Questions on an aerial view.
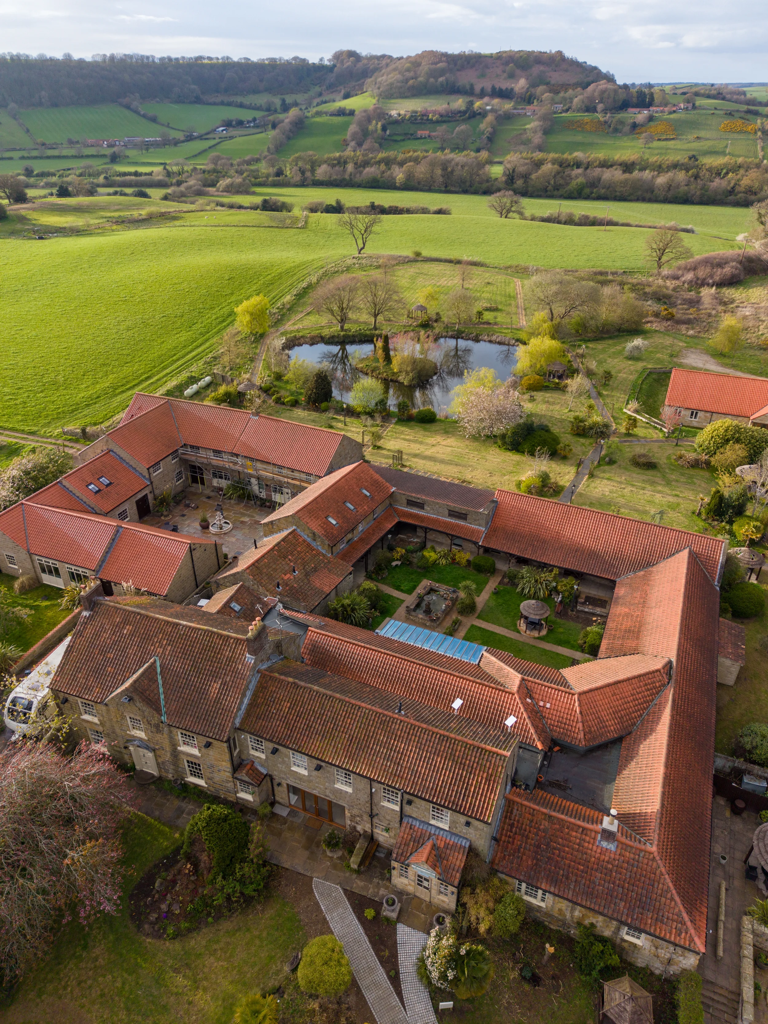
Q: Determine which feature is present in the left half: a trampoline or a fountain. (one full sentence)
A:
The feature located in the left half is a fountain.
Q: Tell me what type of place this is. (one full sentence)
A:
What you see here is a residential area.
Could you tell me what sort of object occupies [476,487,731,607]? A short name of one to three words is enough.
house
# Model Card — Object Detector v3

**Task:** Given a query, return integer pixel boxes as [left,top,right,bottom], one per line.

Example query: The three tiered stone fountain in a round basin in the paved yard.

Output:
[205,509,236,537]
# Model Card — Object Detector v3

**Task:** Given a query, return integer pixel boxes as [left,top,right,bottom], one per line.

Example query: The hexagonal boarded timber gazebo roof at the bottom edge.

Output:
[591,970,664,1024]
